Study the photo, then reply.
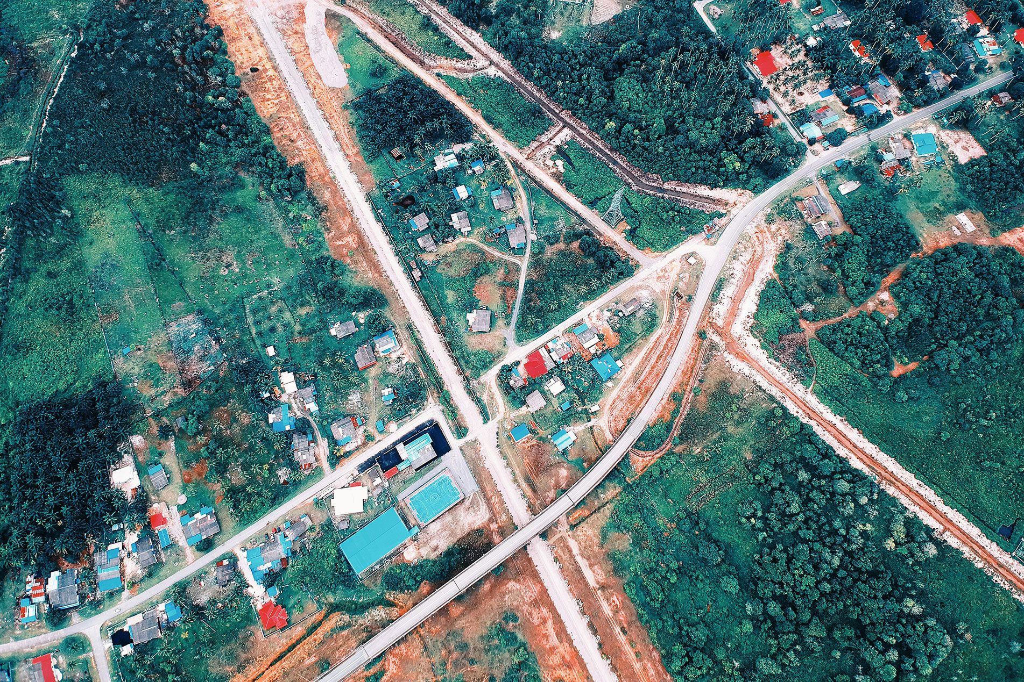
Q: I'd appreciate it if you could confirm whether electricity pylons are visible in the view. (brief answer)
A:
Yes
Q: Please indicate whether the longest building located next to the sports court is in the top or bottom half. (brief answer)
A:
bottom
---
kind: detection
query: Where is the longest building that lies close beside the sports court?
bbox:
[340,507,420,575]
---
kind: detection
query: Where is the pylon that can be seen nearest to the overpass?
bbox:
[600,191,624,228]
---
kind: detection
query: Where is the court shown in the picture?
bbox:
[406,471,465,527]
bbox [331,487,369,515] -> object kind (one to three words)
building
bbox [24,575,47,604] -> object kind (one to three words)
shed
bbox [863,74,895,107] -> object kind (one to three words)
house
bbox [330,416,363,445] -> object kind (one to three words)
house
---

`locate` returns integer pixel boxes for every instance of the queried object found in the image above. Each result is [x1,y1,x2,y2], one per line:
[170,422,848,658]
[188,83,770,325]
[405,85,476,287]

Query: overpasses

[310,310,700,682]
